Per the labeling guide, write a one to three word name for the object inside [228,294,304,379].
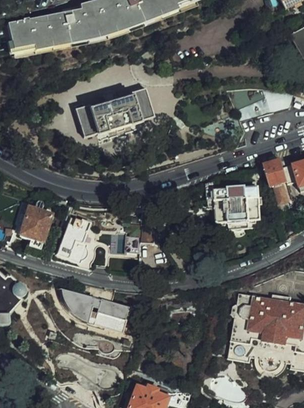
house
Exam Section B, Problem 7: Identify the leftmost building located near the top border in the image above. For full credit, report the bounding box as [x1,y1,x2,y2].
[10,0,200,58]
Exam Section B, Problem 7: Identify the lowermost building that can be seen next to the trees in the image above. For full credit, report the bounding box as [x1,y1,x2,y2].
[127,382,190,408]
